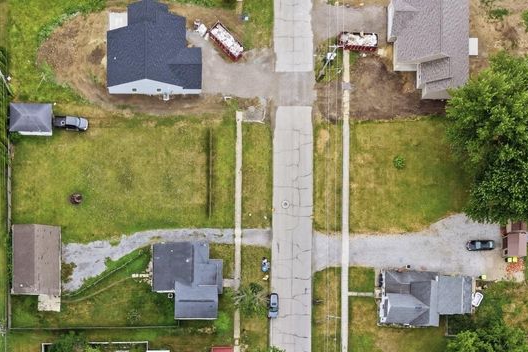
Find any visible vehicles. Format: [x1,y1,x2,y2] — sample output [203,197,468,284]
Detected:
[266,292,280,320]
[465,238,495,252]
[54,116,88,132]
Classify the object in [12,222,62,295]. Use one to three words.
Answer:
building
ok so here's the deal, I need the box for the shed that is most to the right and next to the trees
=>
[500,221,527,258]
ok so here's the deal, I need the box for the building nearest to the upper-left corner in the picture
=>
[9,103,54,138]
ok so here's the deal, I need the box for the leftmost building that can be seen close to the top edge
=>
[106,0,203,99]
